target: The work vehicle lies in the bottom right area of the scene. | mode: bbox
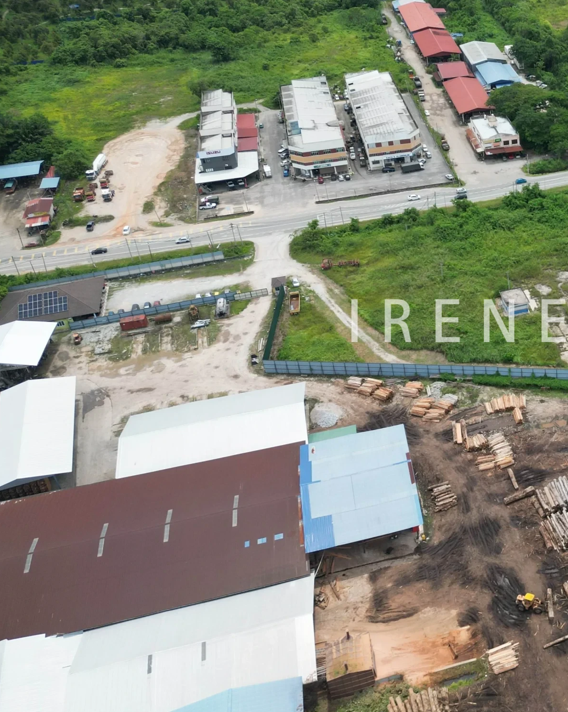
[512,589,558,613]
